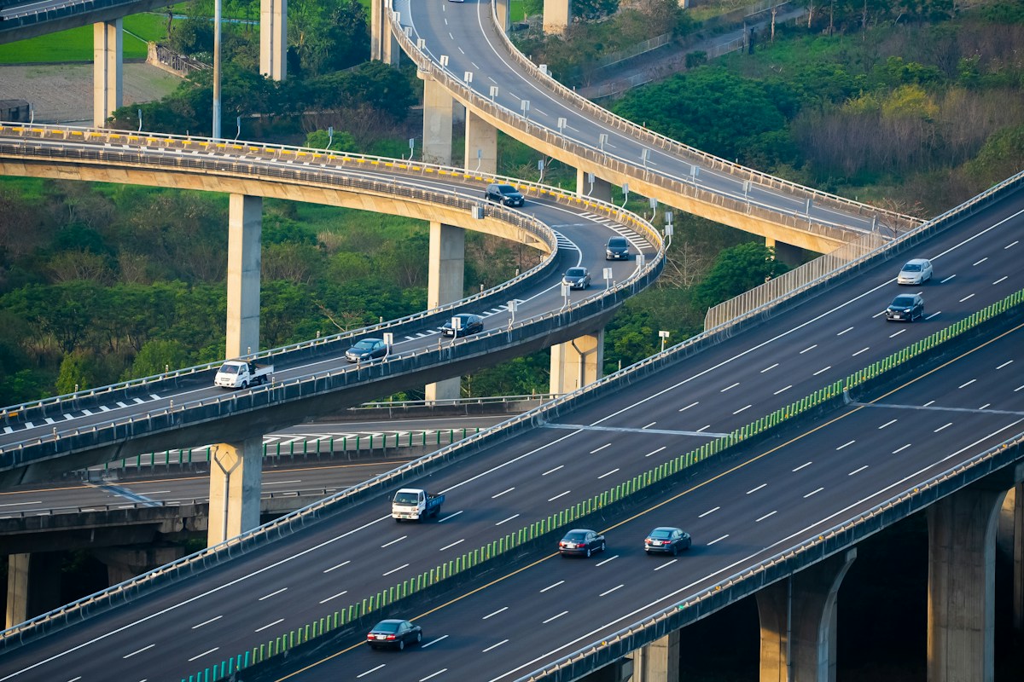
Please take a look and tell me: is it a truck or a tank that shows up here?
truck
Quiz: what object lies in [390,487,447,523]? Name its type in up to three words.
truck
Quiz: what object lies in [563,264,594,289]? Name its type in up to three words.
car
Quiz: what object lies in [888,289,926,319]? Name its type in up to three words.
car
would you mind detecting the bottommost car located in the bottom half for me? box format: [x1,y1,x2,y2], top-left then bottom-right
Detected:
[370,615,425,647]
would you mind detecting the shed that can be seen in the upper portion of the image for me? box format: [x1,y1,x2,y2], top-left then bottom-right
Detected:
[0,93,30,124]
